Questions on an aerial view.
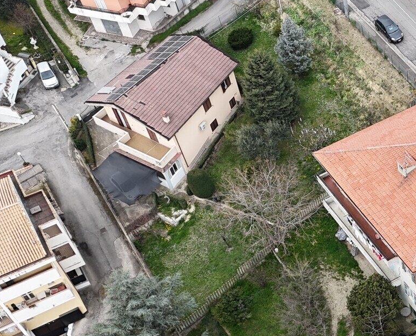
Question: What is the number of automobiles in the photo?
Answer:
two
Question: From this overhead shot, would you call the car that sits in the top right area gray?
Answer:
Yes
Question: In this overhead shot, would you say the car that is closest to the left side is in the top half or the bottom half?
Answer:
top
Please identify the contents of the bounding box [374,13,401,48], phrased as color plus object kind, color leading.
gray car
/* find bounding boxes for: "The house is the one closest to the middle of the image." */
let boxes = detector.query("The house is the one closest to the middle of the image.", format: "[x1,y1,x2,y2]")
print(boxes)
[82,29,247,189]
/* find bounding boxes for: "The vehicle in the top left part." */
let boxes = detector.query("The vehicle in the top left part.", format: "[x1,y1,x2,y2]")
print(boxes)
[35,61,61,90]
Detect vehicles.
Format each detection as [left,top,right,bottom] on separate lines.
[35,61,61,90]
[374,13,401,48]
